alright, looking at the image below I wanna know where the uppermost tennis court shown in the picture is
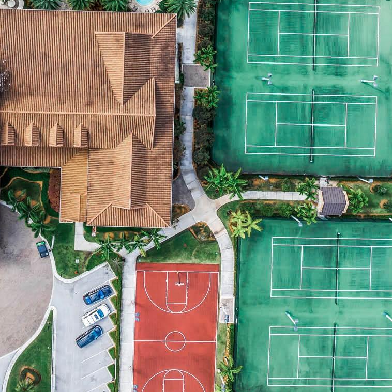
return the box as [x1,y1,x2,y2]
[215,0,392,81]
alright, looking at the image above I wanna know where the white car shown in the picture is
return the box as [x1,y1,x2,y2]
[81,305,111,327]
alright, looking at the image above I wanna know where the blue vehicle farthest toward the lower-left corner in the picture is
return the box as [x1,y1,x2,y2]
[74,326,103,350]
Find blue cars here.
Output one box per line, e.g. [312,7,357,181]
[74,326,103,350]
[84,285,112,305]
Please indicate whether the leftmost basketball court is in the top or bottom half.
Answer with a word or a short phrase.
bottom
